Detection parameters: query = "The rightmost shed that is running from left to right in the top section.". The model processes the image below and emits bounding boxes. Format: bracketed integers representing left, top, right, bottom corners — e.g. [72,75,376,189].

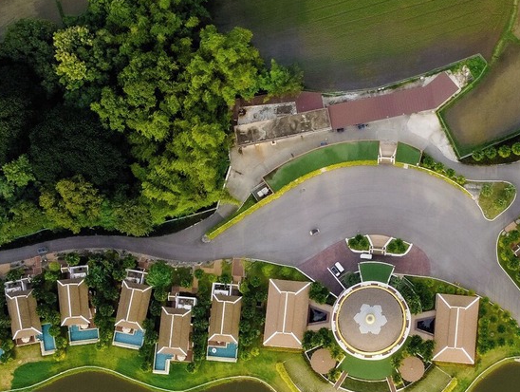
[328,71,459,131]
